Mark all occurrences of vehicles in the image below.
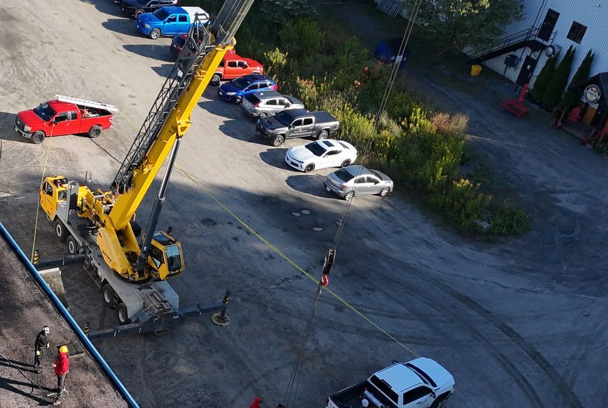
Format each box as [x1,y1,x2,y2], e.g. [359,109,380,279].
[212,70,276,104]
[238,82,307,115]
[117,0,181,14]
[280,136,362,172]
[249,103,341,146]
[212,47,266,84]
[8,93,119,143]
[320,354,459,408]
[319,163,397,199]
[131,2,212,39]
